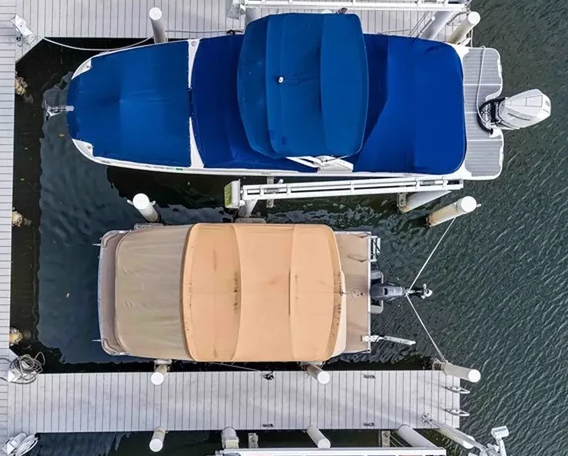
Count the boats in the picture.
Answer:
2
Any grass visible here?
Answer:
No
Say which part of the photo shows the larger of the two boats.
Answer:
top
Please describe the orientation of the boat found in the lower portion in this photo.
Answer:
horizontally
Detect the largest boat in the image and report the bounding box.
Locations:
[44,14,549,182]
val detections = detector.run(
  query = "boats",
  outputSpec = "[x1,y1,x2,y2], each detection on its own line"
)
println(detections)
[92,216,436,369]
[44,14,549,182]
